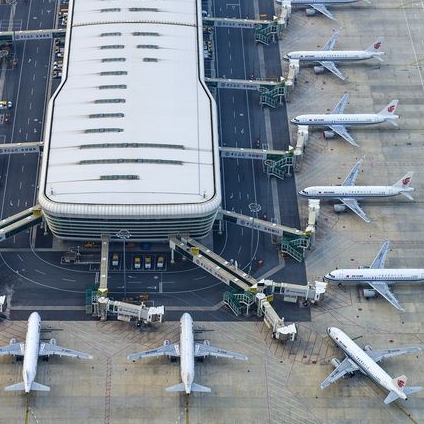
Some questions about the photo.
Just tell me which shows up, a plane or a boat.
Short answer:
plane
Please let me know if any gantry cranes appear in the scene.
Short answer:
No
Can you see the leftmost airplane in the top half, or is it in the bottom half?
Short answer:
bottom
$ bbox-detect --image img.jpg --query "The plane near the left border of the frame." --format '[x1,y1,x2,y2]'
[0,311,89,394]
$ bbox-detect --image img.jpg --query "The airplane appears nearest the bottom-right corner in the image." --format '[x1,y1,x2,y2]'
[321,327,422,402]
